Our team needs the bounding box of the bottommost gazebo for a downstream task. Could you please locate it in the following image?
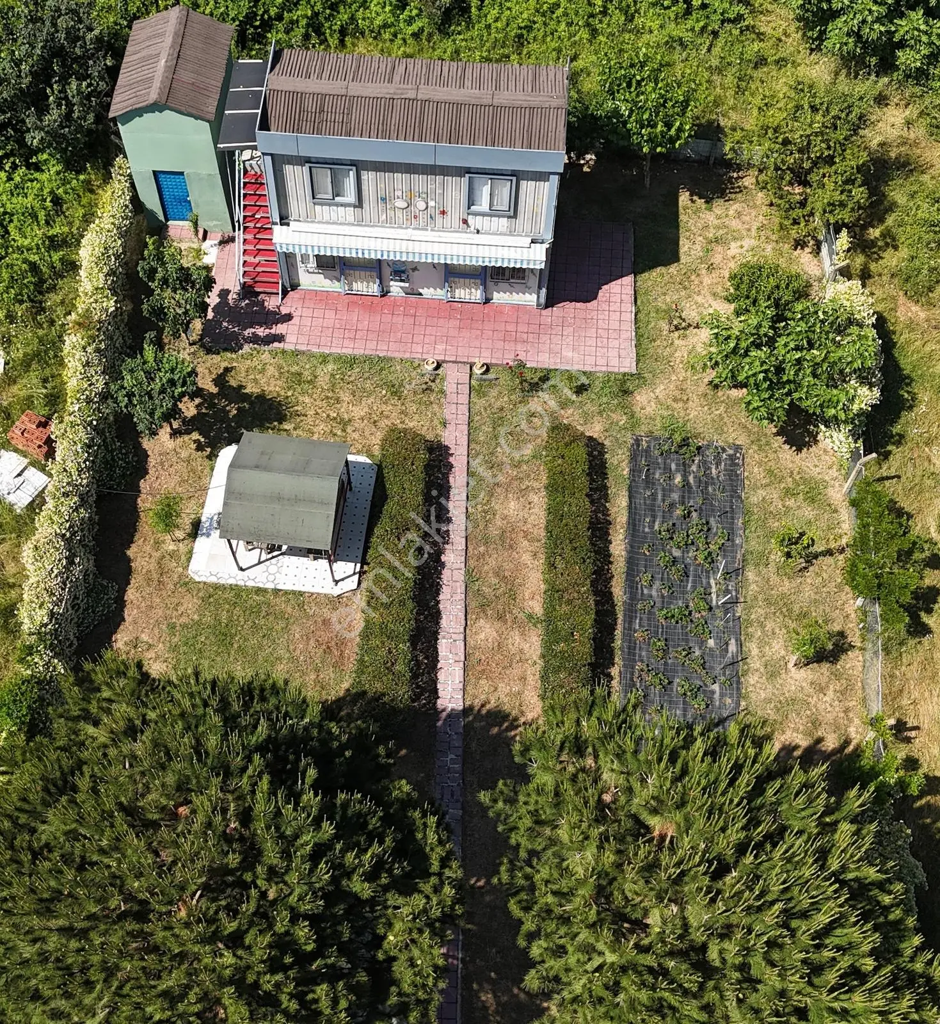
[218,429,353,582]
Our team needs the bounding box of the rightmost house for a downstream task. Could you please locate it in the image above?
[257,33,572,307]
